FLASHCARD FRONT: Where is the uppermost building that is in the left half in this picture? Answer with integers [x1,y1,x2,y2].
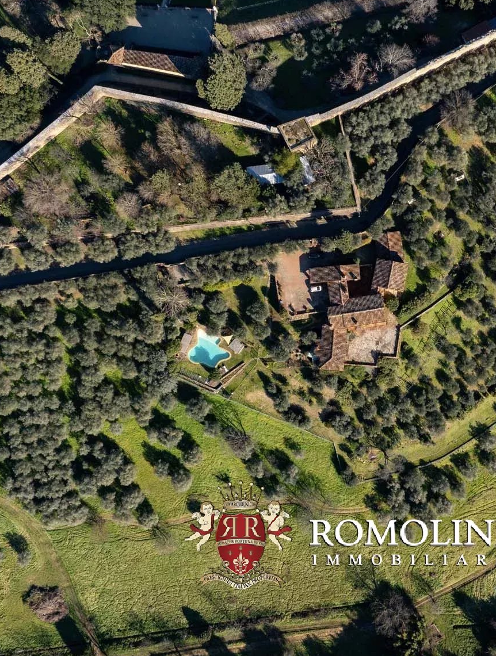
[113,45,206,84]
